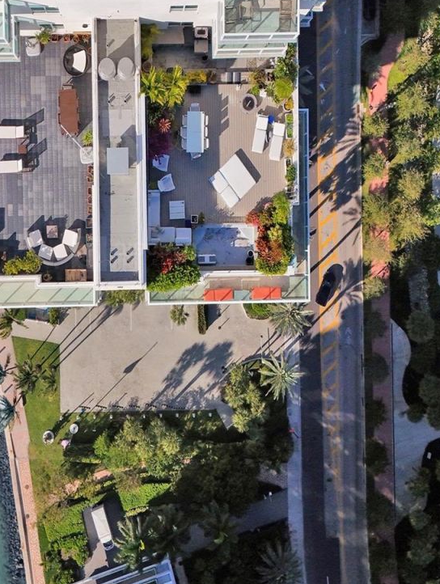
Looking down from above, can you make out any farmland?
No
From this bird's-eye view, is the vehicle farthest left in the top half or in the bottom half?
bottom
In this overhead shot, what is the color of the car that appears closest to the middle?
black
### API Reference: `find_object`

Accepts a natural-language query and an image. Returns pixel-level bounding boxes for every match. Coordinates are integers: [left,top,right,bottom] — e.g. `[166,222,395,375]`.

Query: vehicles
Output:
[90,501,115,549]
[361,0,376,21]
[315,266,342,304]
